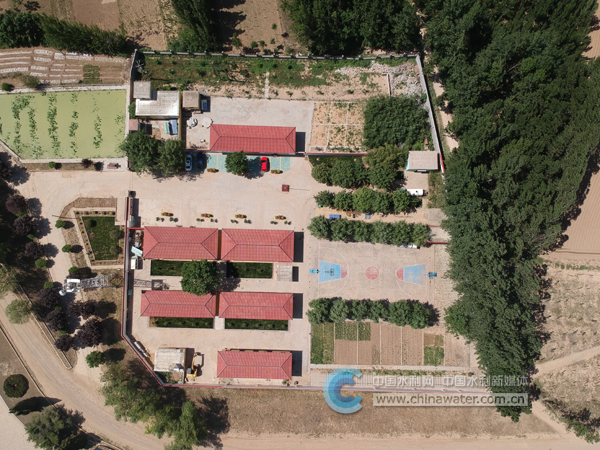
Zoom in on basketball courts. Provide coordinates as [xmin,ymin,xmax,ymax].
[310,243,437,300]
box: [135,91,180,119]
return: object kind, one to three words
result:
building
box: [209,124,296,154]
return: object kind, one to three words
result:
house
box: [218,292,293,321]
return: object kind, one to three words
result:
house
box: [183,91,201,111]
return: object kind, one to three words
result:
shed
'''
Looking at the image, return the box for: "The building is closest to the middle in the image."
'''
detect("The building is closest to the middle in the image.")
[221,229,295,262]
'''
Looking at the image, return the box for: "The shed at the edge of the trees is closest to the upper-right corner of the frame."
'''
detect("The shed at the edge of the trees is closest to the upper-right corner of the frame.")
[404,151,438,172]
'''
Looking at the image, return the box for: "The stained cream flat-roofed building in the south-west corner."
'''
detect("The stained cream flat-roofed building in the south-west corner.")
[154,346,188,371]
